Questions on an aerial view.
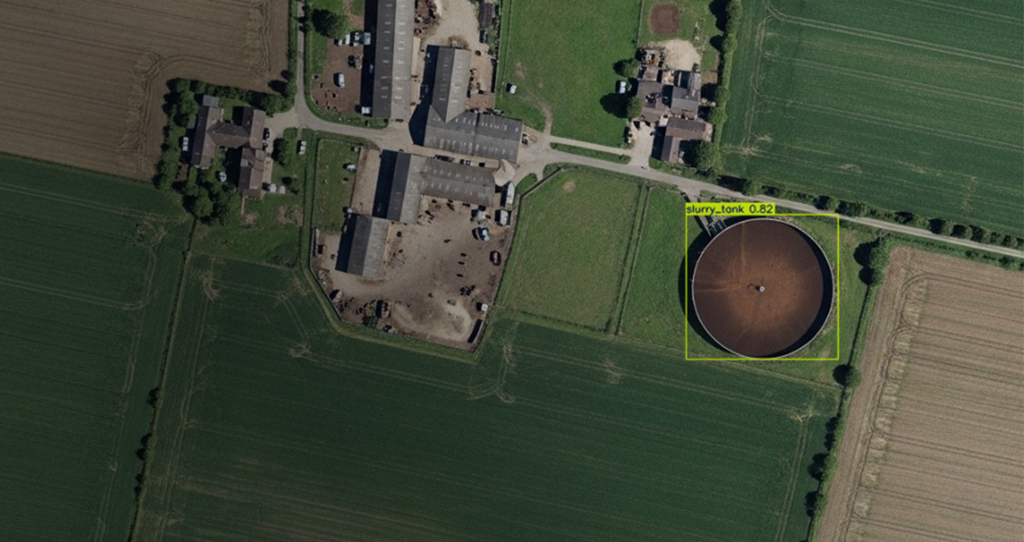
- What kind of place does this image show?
farmland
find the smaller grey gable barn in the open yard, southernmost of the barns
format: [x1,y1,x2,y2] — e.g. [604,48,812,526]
[346,213,390,280]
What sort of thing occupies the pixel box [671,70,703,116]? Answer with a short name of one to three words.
house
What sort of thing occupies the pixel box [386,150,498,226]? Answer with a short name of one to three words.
barn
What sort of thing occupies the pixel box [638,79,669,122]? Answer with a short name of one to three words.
house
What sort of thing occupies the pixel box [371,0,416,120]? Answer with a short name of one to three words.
barn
